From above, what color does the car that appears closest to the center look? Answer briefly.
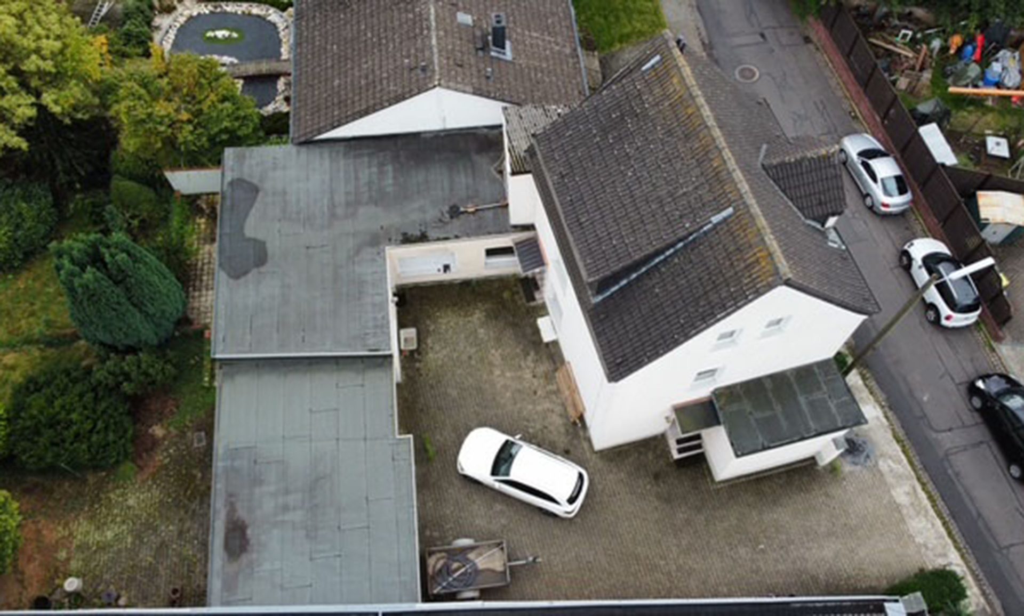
white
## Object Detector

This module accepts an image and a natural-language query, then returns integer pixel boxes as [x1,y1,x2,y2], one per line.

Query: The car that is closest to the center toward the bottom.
[461,437,587,518]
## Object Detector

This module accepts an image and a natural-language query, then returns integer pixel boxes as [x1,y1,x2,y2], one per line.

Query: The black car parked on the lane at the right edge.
[972,371,1024,484]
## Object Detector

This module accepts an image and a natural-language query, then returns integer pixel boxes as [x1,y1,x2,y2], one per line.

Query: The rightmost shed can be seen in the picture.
[970,191,1024,248]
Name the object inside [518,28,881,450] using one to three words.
house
